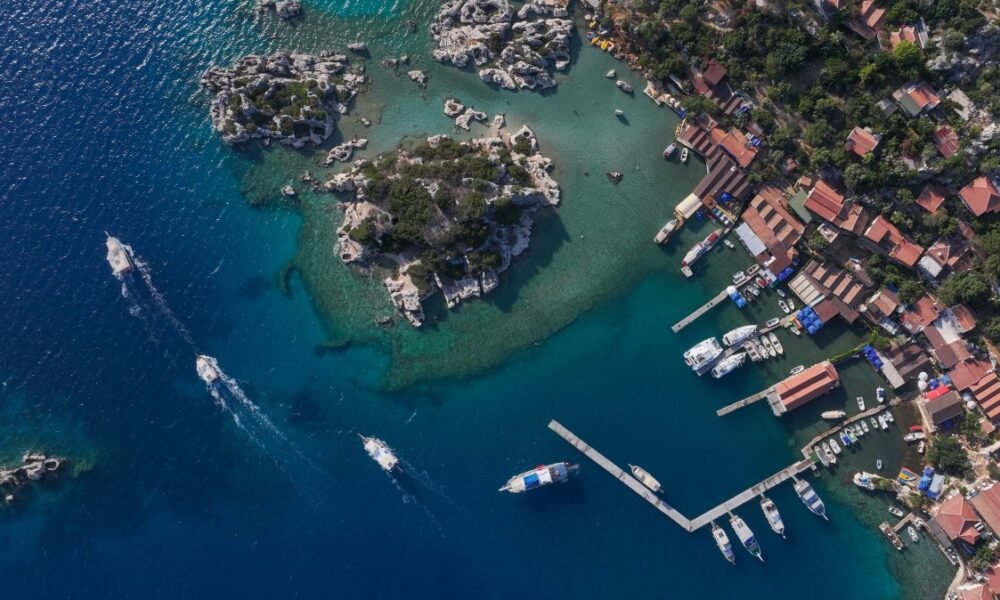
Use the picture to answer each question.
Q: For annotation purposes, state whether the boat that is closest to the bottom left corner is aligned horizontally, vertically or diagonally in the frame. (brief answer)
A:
diagonally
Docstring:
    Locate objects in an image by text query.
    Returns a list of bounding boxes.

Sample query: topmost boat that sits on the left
[106,236,135,278]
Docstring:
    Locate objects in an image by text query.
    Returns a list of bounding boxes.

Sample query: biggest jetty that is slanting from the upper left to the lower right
[549,419,689,529]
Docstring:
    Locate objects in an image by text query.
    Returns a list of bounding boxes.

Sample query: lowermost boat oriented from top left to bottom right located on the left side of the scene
[356,433,401,475]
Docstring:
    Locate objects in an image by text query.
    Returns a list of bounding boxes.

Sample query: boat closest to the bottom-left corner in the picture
[197,355,224,388]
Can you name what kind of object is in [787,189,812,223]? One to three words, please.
house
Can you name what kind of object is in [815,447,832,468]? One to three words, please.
boat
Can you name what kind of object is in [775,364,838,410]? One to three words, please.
building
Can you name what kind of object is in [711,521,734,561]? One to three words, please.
boat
